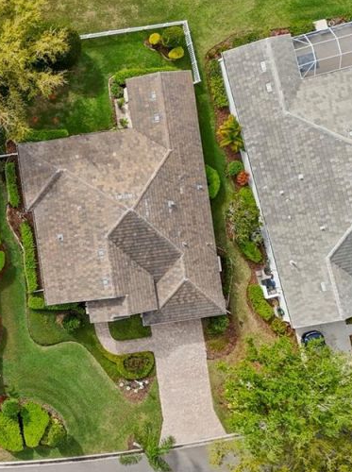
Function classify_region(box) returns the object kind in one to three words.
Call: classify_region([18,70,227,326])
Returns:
house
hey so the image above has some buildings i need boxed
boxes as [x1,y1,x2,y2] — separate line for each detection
[18,70,227,326]
[214,35,352,329]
